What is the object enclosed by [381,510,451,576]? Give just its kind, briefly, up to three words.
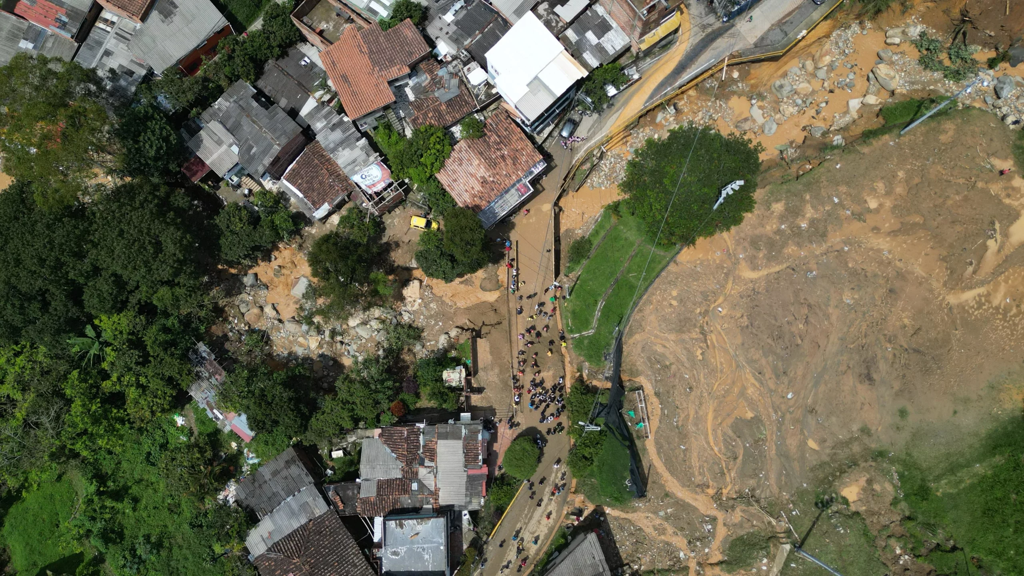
building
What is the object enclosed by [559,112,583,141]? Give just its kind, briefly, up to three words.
car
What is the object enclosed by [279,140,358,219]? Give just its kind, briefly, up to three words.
house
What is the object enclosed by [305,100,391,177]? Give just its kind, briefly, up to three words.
house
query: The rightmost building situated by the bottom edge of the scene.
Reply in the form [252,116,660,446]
[526,529,612,576]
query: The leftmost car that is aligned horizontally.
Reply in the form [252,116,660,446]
[408,214,439,229]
